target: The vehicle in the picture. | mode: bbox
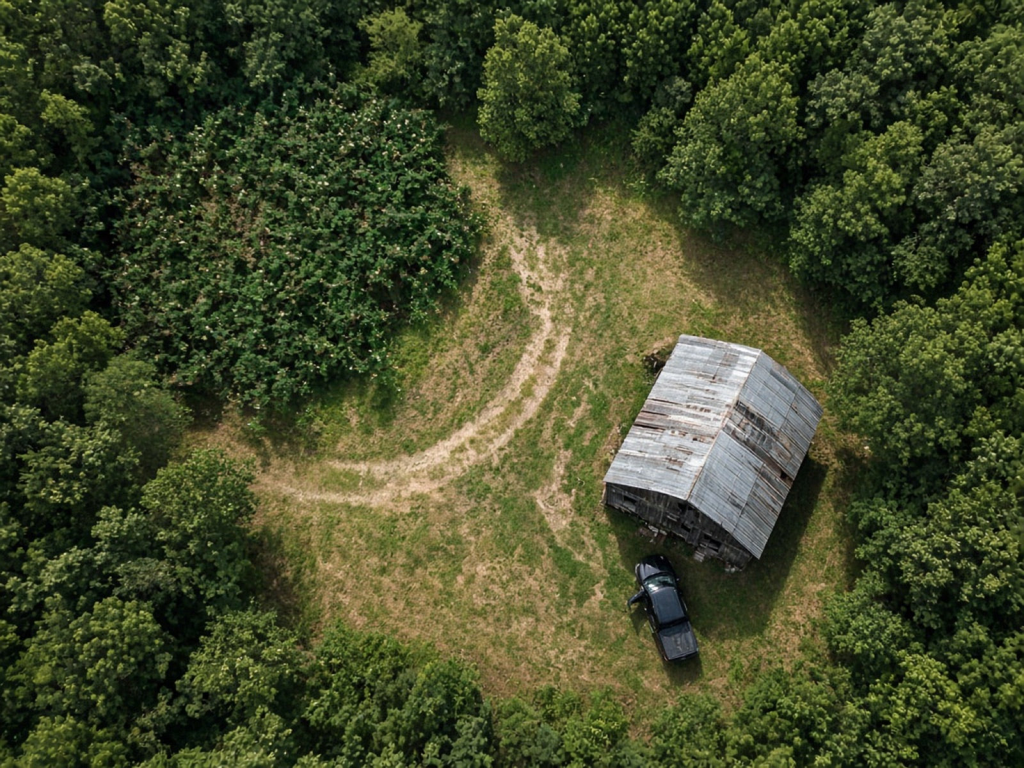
[629,552,702,665]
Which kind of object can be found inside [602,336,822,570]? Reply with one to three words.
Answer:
barn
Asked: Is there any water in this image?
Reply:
No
